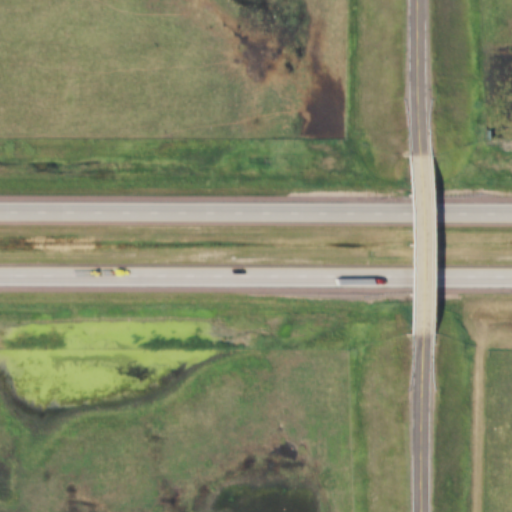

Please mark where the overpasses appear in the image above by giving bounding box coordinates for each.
[406,146,438,344]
